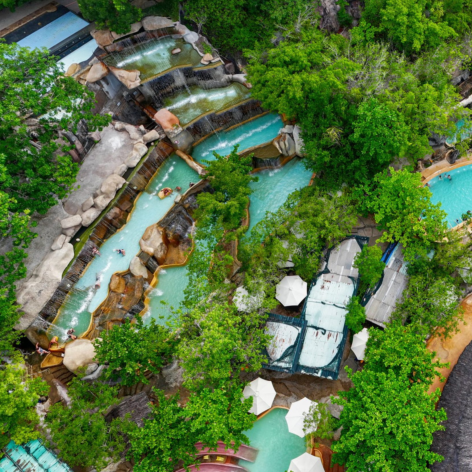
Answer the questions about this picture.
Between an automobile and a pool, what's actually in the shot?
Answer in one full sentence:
Of the two, only a pool appears.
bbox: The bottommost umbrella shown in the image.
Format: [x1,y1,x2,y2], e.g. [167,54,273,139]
[287,449,326,472]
